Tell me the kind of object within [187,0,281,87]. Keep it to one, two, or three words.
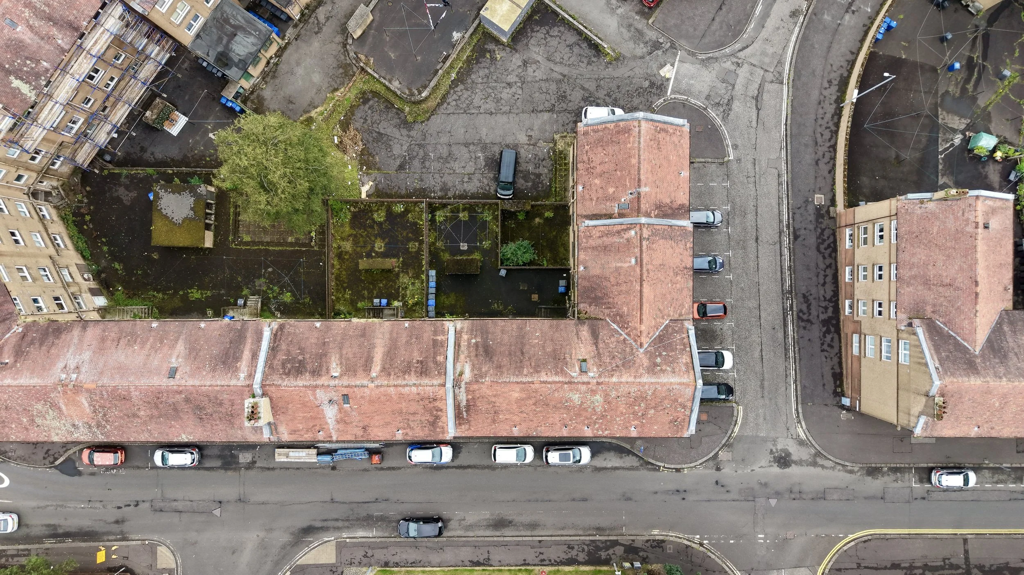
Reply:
building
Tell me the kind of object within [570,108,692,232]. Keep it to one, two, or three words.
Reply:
building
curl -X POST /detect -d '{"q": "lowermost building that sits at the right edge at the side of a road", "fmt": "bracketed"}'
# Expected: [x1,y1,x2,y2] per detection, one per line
[851,309,1024,439]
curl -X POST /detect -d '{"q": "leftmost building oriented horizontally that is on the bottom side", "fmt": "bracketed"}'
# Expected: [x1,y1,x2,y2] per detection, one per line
[0,318,267,443]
